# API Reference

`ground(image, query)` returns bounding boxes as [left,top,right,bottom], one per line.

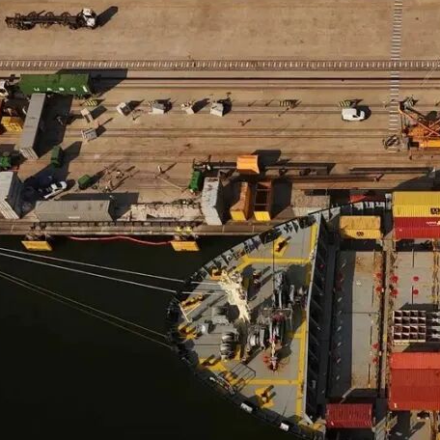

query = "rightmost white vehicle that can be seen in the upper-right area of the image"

[341,109,369,124]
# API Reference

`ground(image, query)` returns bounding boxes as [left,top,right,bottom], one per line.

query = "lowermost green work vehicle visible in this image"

[0,156,16,171]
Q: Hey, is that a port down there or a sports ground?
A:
port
